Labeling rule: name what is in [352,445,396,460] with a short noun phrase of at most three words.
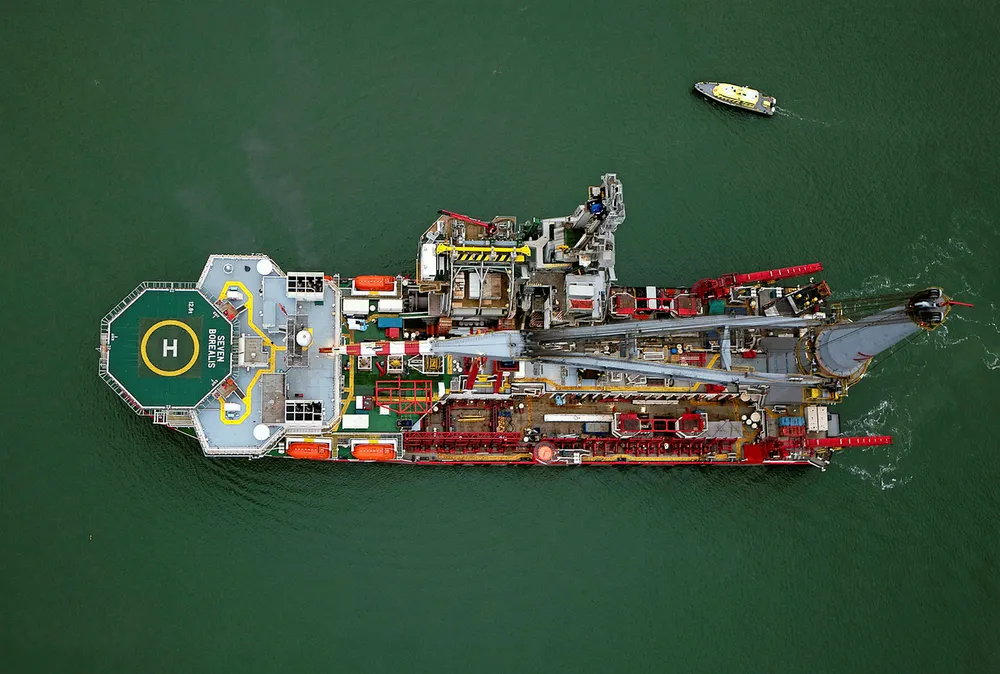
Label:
boat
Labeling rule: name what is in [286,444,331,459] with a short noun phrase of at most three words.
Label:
boat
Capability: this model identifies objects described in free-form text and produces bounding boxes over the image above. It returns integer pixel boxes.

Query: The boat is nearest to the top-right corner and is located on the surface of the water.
[695,79,781,119]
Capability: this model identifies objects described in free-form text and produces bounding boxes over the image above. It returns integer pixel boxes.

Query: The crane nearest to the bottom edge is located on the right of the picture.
[759,432,892,462]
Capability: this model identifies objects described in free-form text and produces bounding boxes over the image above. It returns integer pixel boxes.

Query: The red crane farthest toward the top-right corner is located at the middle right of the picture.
[690,263,823,306]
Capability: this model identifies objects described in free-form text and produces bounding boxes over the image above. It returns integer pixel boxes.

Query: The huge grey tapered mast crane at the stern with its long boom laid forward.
[341,285,974,392]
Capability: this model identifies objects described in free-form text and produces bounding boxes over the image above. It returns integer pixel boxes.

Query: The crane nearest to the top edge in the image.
[438,209,500,236]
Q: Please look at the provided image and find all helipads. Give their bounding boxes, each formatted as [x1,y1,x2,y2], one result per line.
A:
[96,282,249,427]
